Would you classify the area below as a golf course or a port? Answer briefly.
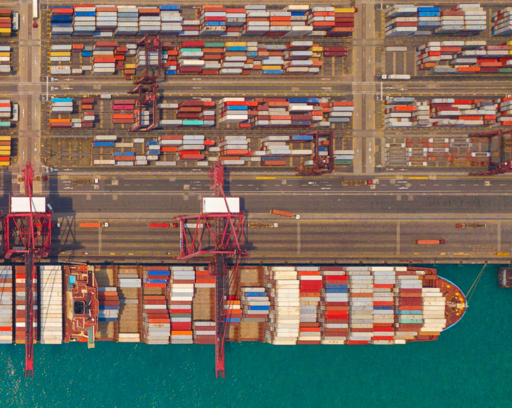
port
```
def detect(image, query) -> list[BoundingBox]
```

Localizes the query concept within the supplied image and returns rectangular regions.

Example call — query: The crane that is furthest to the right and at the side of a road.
[471,130,512,176]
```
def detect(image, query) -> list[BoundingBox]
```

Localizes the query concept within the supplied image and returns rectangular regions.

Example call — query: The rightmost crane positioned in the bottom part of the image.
[170,160,244,379]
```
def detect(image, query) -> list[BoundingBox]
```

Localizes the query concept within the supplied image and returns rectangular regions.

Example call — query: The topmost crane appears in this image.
[133,33,163,83]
